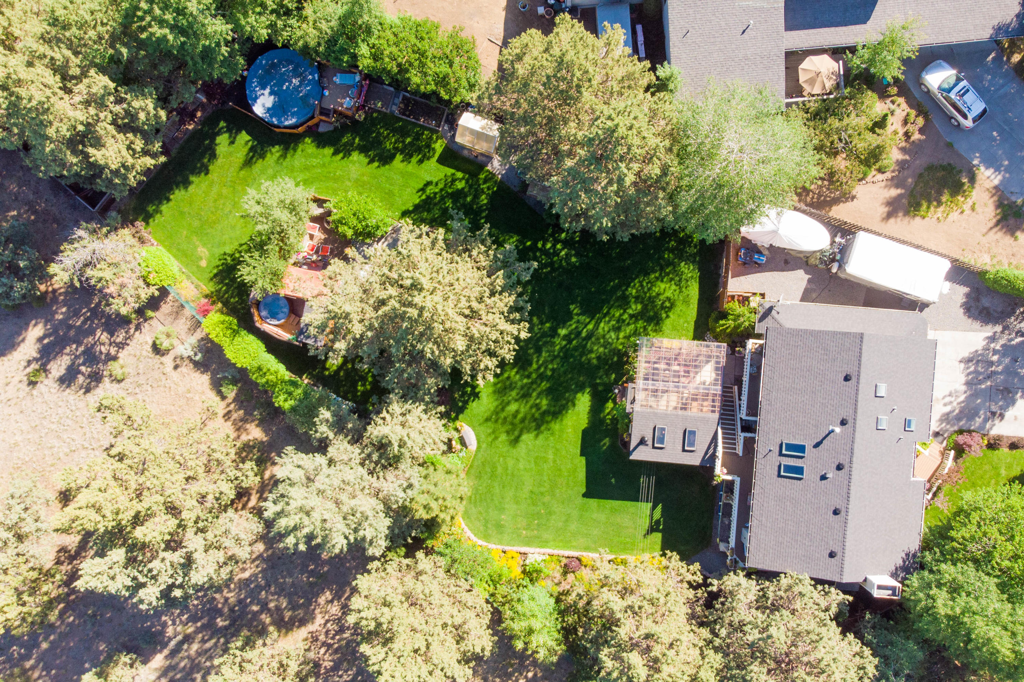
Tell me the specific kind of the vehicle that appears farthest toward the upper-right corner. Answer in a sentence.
It looks like the vehicle that appears farthest toward the upper-right corner is an automobile.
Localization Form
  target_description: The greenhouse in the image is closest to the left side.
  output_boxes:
[455,112,499,160]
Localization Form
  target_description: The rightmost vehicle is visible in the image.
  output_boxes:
[925,60,993,131]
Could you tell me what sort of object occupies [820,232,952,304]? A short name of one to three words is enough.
trailer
